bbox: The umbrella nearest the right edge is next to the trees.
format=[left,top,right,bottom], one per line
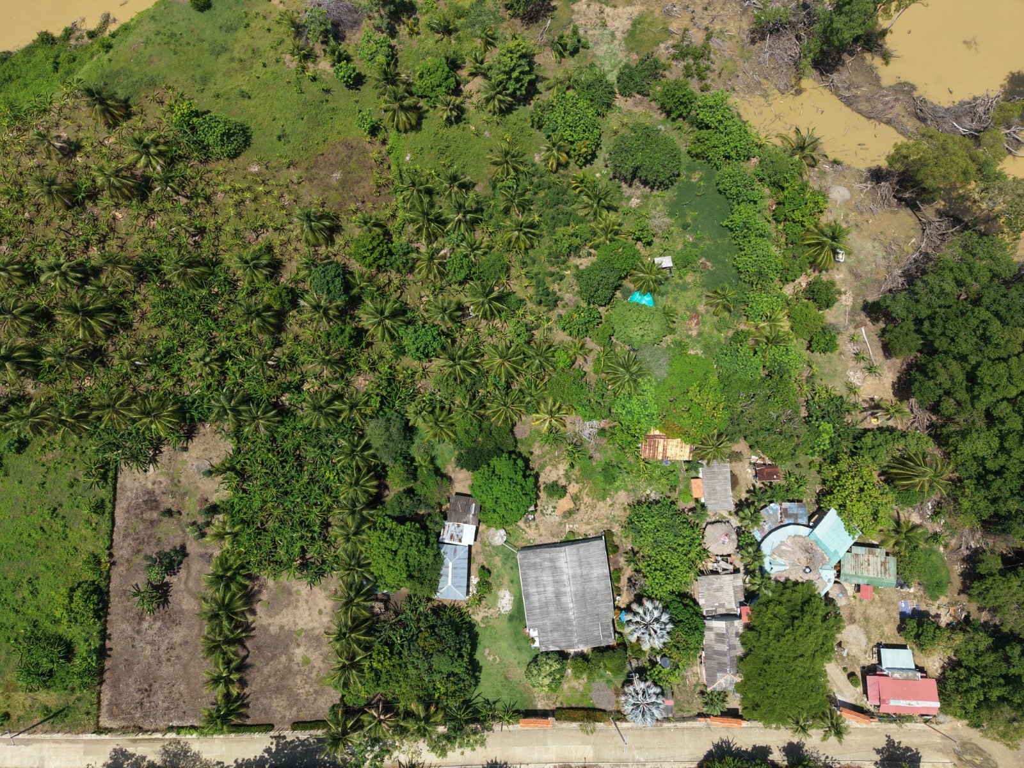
[827,583,852,607]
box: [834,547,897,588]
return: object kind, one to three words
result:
barn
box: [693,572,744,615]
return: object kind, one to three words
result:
building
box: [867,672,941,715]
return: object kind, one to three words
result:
house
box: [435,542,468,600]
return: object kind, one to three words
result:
house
